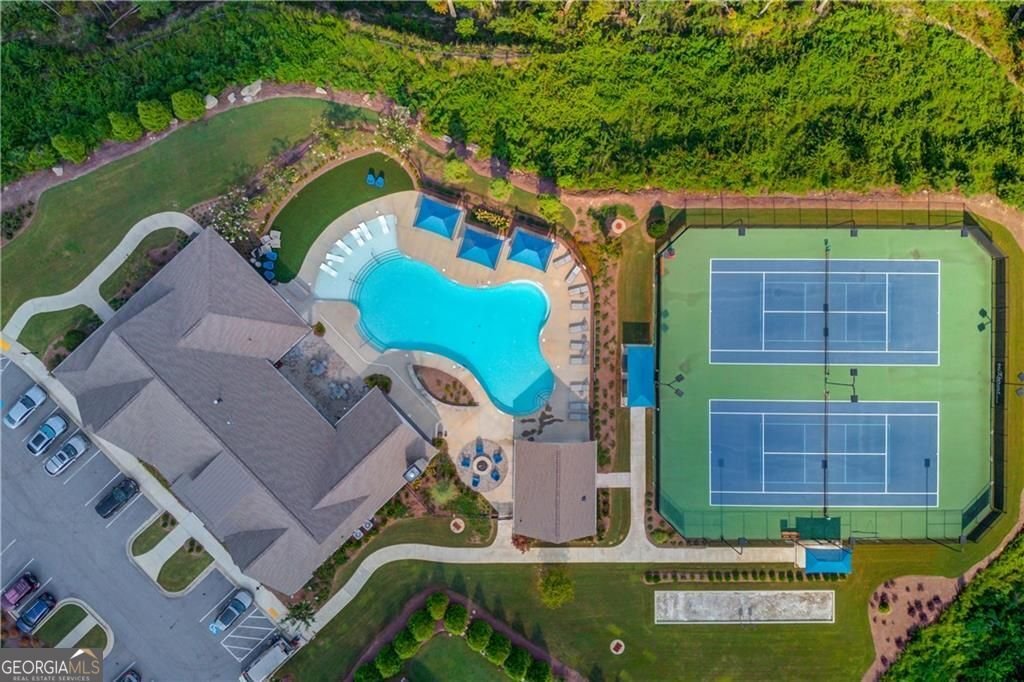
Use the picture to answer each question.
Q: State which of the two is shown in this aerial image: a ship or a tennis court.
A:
tennis court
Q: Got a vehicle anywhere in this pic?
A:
Yes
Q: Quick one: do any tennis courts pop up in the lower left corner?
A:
No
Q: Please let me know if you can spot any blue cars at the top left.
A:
No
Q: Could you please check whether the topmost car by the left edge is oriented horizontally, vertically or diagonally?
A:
diagonally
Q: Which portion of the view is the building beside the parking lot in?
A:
left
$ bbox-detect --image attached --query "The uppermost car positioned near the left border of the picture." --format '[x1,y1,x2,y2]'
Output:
[4,384,50,427]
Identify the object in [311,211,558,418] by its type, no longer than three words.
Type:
swimming pool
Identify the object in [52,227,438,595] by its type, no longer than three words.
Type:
building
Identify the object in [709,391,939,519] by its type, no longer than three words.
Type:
tennis court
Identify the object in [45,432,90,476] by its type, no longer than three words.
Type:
car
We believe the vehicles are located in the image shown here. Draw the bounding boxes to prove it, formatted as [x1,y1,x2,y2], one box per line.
[234,631,301,682]
[4,384,50,427]
[0,567,43,613]
[210,588,254,632]
[16,589,60,635]
[96,474,141,519]
[26,411,71,455]
[45,432,90,476]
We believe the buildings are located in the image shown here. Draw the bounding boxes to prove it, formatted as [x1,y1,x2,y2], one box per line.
[52,227,438,595]
[513,440,597,544]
